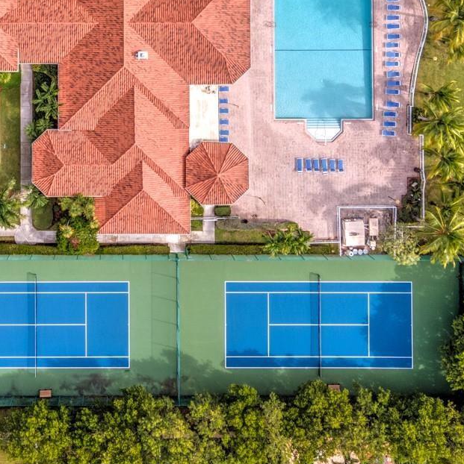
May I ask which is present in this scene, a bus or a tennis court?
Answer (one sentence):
It is a tennis court that can be seen here.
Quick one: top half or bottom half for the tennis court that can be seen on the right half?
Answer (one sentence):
The tennis court that can be seen on the right half sits in the bottom half of the picture.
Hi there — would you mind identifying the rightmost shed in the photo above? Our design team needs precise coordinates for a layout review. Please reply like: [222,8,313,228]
[344,219,370,251]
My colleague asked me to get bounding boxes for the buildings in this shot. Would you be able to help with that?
[0,0,251,235]
[344,219,370,251]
